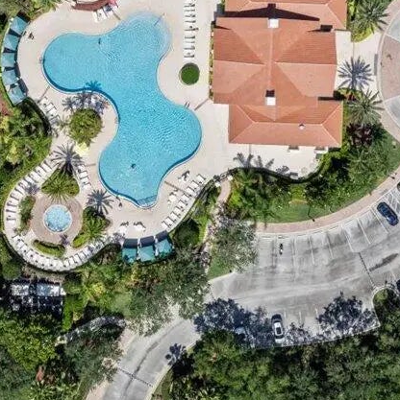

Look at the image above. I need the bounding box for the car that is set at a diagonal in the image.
[377,201,398,226]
